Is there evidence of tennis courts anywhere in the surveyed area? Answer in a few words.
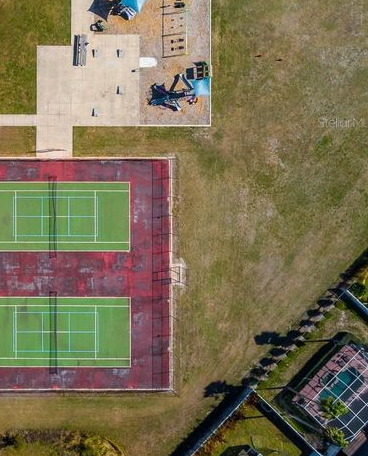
Yes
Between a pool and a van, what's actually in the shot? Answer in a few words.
pool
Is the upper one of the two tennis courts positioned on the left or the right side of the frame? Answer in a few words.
left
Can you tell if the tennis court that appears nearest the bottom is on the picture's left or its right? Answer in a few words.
left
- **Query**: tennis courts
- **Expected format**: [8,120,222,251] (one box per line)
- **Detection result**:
[0,293,131,372]
[0,178,131,256]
